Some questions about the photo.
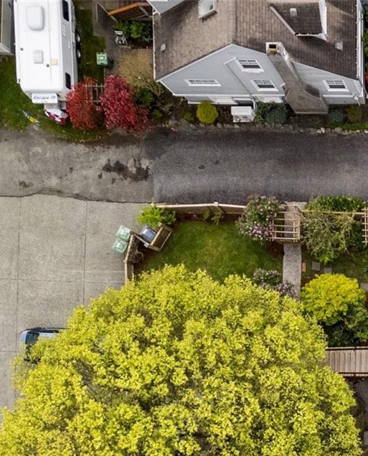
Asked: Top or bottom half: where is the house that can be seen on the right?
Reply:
top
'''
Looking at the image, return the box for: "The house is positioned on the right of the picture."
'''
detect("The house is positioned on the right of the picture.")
[142,0,368,123]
